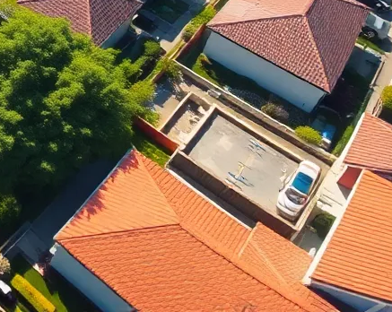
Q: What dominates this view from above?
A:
buildings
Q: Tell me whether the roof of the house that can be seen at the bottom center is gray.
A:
No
